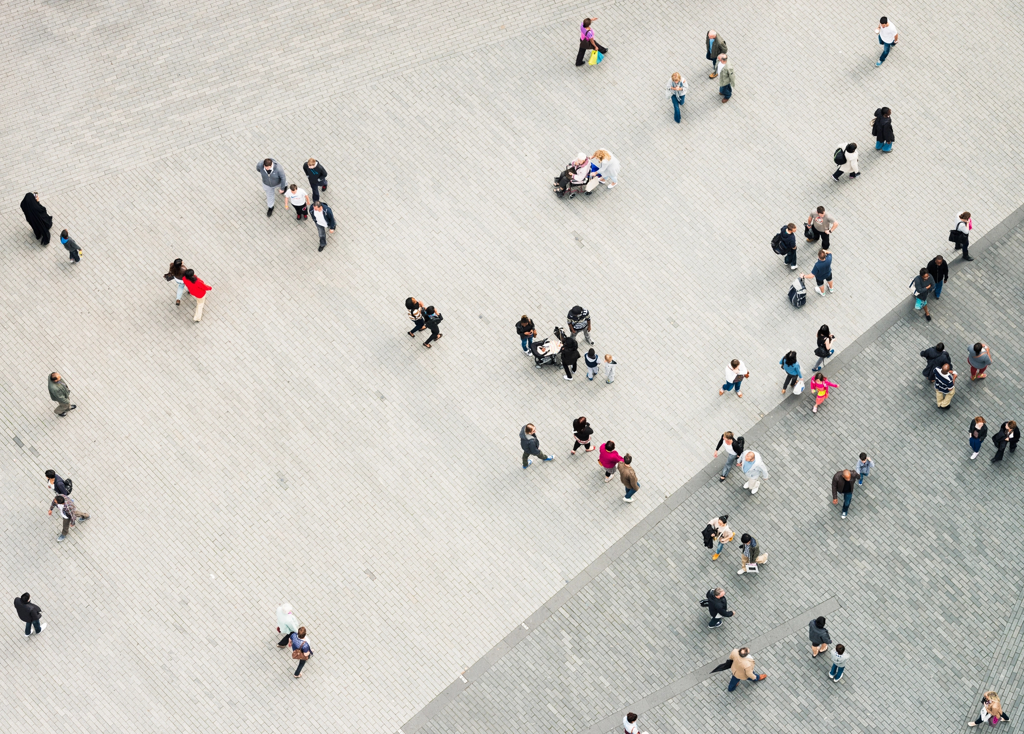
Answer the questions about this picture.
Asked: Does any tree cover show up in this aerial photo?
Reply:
No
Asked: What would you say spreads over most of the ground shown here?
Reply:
paved ground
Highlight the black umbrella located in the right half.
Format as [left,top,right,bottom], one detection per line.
[708,661,730,675]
